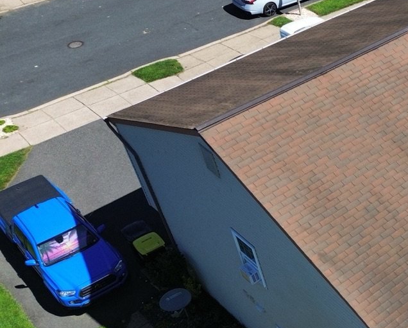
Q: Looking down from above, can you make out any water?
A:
No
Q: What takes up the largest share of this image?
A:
buildings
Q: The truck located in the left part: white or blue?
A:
blue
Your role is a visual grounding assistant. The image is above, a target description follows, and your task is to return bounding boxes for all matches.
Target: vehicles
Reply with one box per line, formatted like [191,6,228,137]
[231,0,311,20]
[276,17,317,40]
[0,173,124,310]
